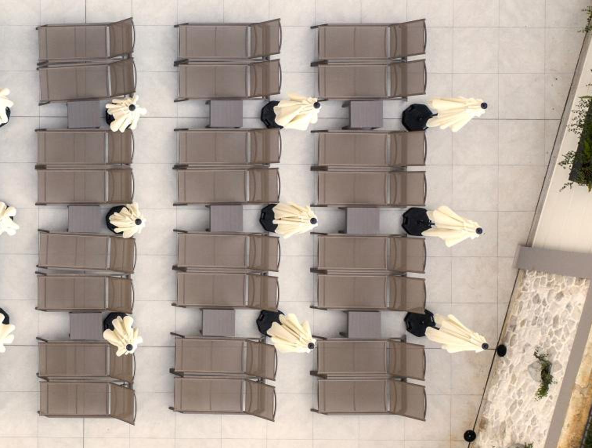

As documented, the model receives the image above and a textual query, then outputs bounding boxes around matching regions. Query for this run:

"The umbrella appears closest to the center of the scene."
[259,199,319,240]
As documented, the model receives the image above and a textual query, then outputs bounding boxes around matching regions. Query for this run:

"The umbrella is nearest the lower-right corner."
[405,311,489,352]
